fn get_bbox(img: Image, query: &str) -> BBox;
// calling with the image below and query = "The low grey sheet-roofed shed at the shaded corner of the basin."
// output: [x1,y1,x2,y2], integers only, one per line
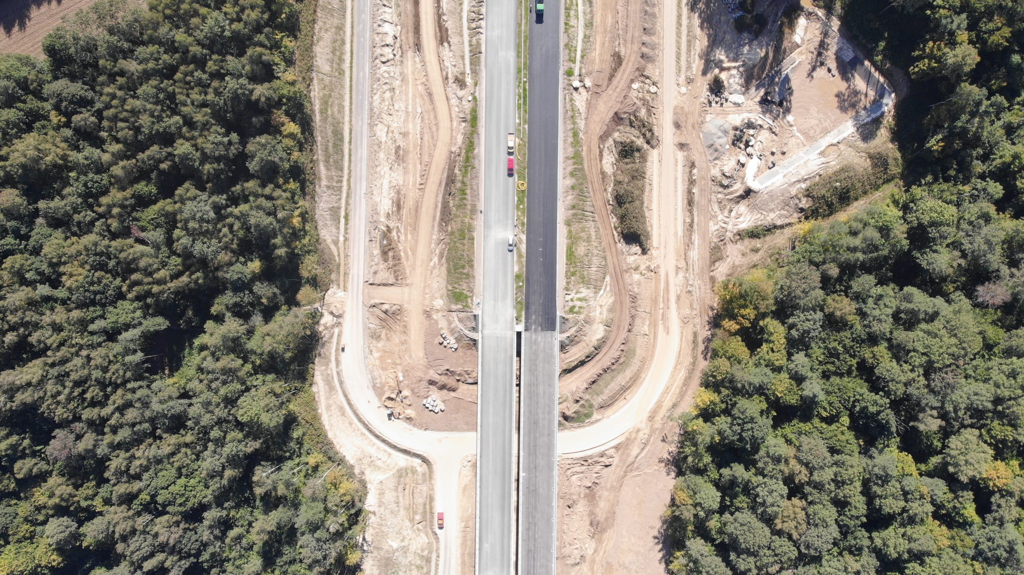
[836,37,863,62]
